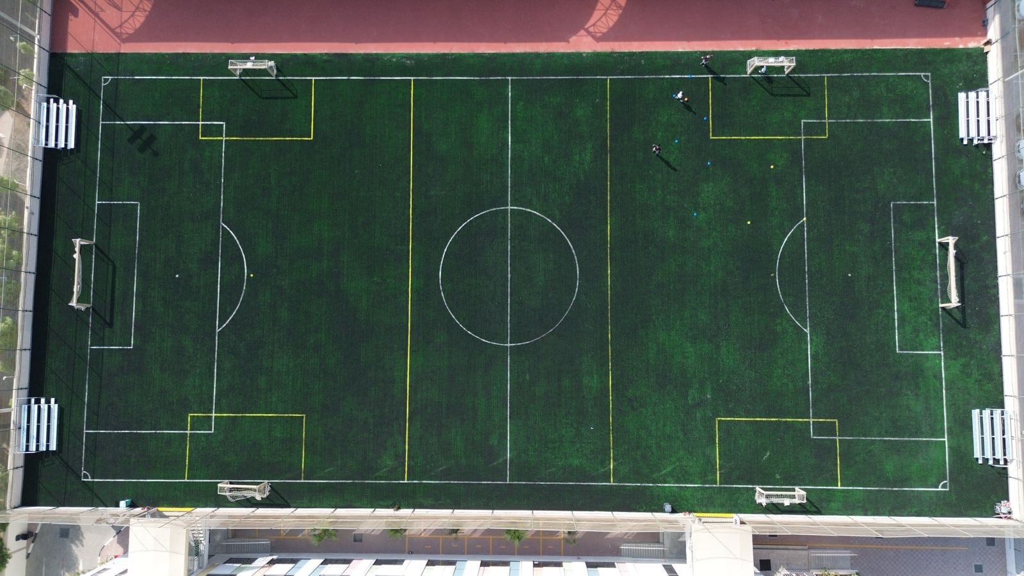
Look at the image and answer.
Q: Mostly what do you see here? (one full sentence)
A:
The scene is dominated by grass.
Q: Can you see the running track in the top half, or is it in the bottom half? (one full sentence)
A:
The running track sits in the top half of the picture.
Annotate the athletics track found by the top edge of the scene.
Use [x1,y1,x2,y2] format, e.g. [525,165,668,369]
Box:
[51,0,985,51]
